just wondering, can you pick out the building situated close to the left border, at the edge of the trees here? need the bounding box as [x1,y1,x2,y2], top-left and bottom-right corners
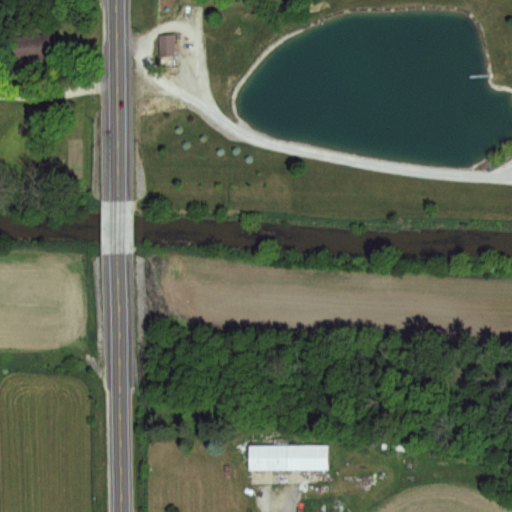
[14,36,48,60]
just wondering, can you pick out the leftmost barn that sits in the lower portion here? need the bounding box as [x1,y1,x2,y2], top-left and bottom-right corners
[249,444,329,472]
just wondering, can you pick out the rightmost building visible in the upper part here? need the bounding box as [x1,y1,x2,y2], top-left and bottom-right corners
[159,34,177,66]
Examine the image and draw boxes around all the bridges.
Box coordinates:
[102,202,134,254]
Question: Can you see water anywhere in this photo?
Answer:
Yes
